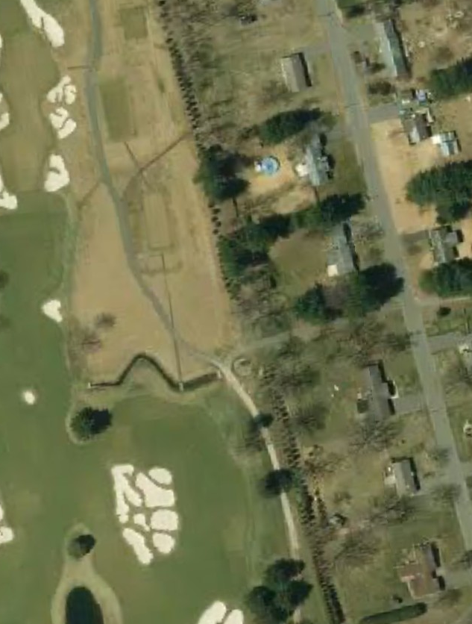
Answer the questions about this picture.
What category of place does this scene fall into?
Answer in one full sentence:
What you see here is a golf course.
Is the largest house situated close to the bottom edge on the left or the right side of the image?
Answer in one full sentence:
The largest house situated close to the bottom edge sits on the right side.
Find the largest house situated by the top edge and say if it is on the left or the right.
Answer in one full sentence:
The largest house situated by the top edge is on the right side of the image.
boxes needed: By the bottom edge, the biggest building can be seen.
[400,544,441,600]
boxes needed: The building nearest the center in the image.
[329,223,355,276]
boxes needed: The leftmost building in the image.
[283,54,308,90]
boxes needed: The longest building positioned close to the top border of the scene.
[376,21,406,76]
